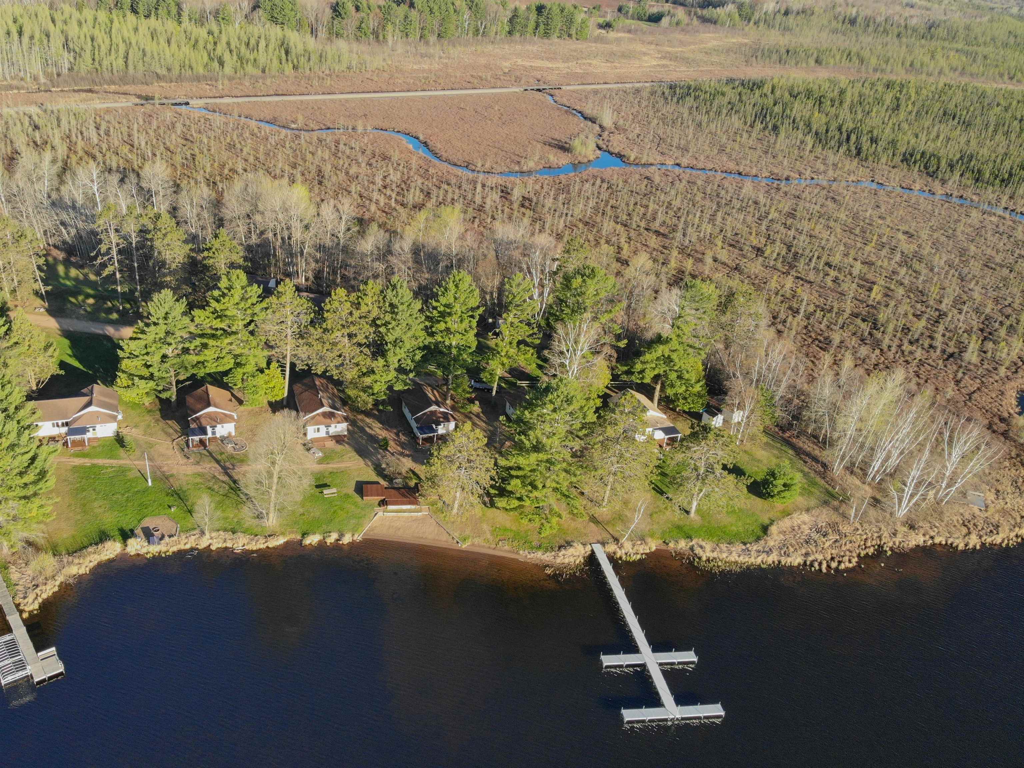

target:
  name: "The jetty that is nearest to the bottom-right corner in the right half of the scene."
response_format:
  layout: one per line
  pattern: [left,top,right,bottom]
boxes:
[592,544,728,721]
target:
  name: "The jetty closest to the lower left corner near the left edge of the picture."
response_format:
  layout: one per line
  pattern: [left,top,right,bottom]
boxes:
[0,588,64,685]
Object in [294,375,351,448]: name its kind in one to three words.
building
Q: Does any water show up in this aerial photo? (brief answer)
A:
Yes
